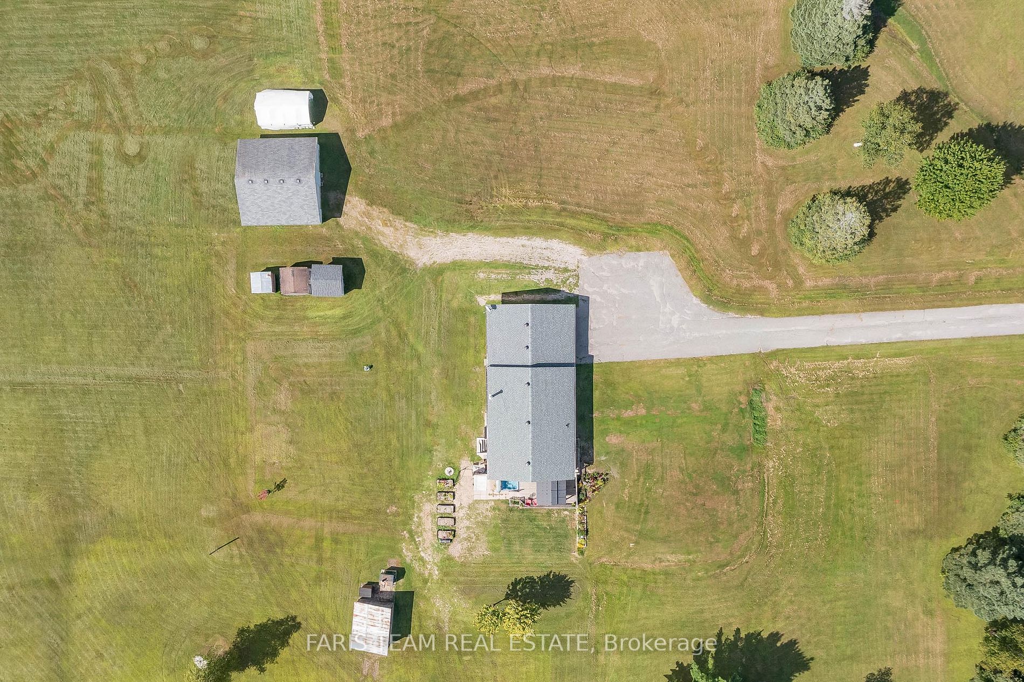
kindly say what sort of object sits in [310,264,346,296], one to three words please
shed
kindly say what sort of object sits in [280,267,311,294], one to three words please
shed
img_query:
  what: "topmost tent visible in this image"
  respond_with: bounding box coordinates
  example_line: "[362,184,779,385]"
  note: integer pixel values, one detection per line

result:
[255,89,314,130]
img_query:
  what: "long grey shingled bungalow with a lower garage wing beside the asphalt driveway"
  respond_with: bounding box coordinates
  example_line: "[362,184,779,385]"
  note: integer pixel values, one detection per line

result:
[486,304,576,482]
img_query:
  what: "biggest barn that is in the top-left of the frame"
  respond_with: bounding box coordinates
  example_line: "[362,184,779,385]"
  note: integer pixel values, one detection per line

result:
[235,137,323,226]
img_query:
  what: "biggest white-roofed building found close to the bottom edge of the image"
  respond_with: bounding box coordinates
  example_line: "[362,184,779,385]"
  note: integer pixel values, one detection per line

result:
[351,599,393,656]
